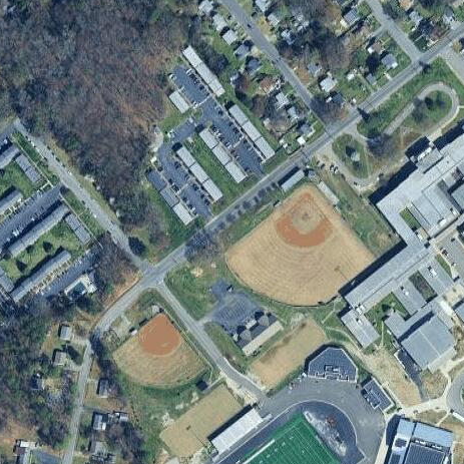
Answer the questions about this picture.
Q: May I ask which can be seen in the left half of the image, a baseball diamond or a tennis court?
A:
baseball diamond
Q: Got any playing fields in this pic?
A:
Yes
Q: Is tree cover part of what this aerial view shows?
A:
Yes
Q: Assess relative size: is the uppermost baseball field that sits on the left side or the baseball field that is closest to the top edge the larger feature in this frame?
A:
the baseball field that is closest to the top edge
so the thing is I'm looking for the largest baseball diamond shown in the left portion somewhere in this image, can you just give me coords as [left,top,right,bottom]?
[113,313,208,387]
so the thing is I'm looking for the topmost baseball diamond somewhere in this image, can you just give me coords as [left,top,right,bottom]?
[226,184,377,306]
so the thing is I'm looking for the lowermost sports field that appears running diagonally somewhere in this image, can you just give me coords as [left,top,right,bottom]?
[160,383,244,461]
